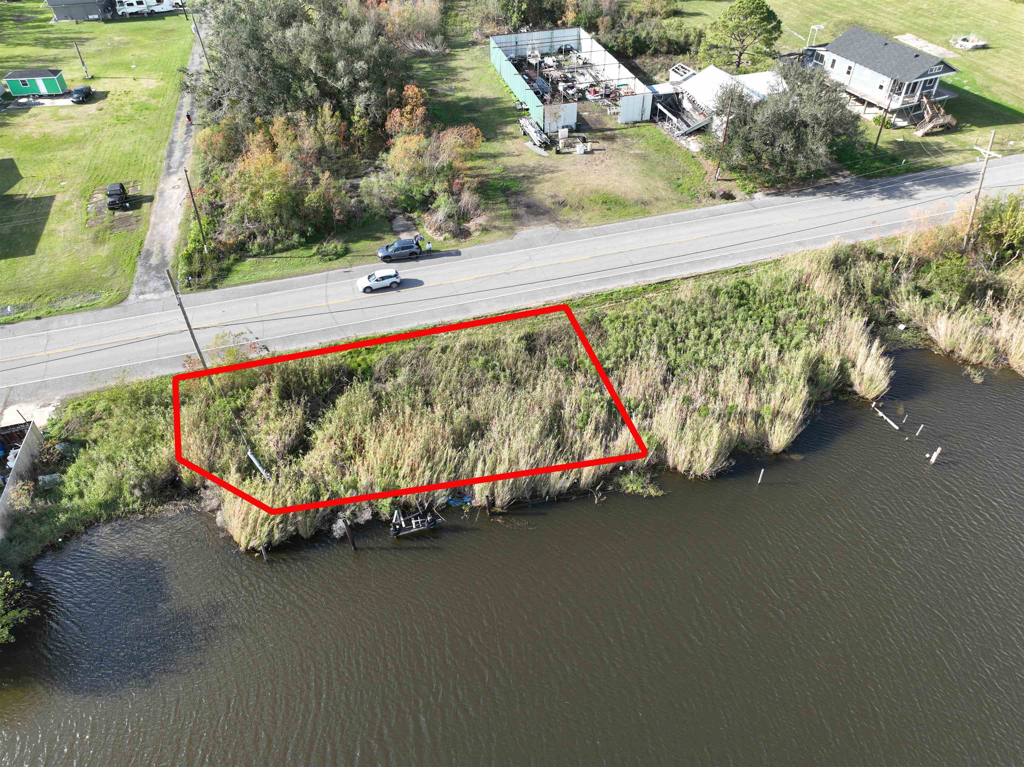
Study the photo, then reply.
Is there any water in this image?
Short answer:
Yes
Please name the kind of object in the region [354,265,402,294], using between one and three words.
car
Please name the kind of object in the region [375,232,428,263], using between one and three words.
car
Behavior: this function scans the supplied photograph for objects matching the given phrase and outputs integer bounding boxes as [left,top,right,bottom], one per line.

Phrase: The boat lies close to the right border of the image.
[951,32,991,49]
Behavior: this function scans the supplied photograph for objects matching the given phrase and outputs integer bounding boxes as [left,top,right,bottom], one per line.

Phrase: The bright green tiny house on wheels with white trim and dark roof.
[0,68,72,100]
